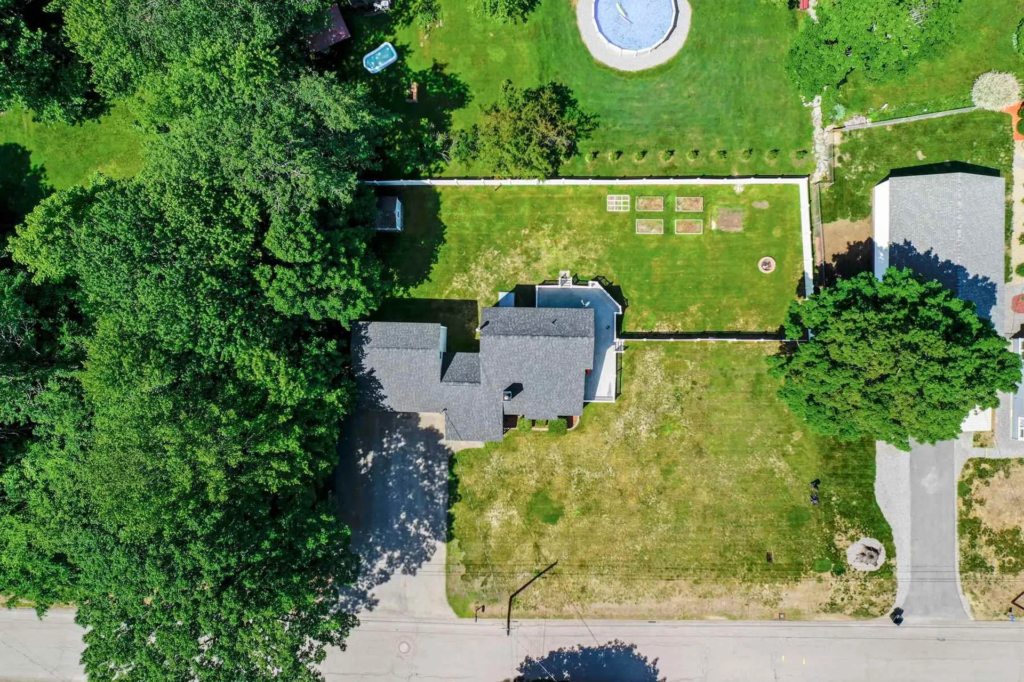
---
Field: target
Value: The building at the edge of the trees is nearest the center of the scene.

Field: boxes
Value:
[352,297,595,441]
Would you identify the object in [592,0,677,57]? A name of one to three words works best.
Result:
swimming pool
